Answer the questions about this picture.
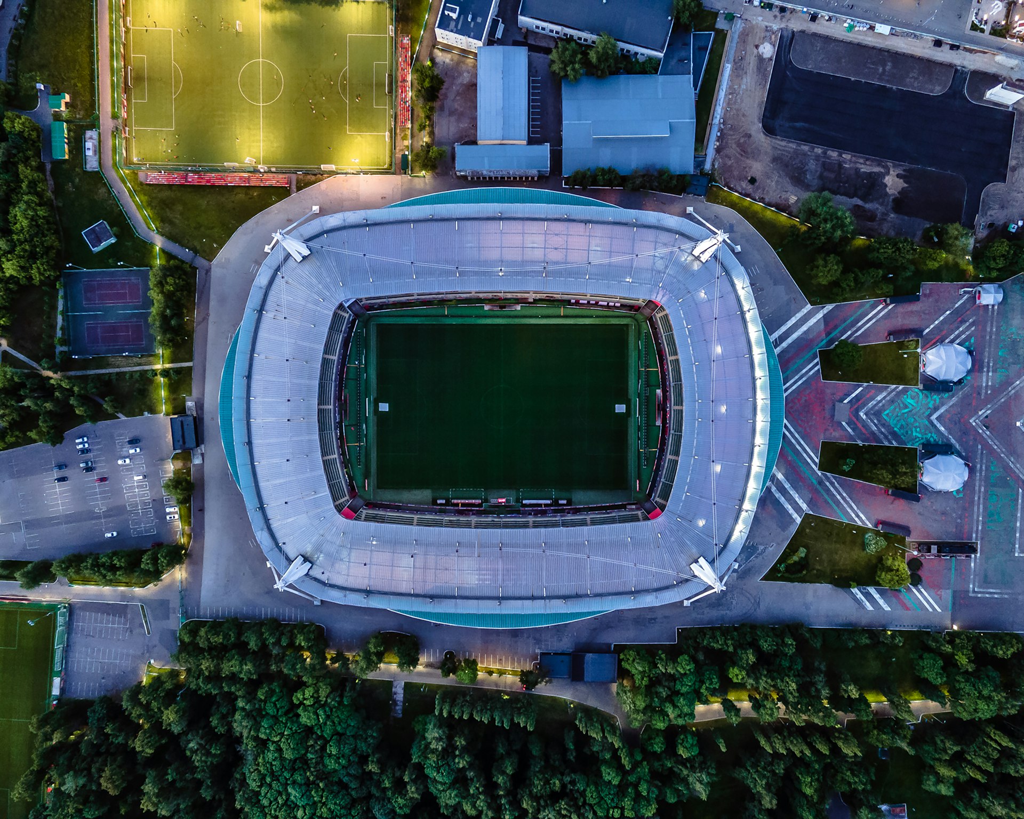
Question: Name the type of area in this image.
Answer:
sports ground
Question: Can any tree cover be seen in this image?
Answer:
Yes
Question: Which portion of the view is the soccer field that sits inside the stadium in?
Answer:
center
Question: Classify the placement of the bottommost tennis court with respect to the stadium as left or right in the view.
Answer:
to its left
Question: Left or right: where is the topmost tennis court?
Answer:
left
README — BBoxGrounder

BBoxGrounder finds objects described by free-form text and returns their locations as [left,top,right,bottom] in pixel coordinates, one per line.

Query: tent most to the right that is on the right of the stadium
[977,283,1009,304]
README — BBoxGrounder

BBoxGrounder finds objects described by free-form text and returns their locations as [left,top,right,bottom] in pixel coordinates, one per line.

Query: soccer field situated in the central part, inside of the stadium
[365,315,640,505]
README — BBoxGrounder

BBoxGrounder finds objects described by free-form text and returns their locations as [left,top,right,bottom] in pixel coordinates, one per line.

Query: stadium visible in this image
[218,187,785,629]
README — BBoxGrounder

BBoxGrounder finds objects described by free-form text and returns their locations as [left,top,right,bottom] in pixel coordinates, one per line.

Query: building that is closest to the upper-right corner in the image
[985,77,1024,112]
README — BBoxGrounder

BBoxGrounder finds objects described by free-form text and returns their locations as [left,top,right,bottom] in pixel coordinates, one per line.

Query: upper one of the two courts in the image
[63,269,152,313]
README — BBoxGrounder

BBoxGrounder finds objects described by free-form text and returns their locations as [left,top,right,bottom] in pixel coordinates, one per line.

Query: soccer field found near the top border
[115,0,396,171]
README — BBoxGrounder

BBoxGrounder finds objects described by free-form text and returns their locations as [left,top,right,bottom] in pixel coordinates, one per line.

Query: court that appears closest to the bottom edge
[66,309,156,355]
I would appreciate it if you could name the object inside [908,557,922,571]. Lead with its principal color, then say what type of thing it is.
black umbrella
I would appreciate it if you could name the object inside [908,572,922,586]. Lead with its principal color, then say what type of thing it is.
black umbrella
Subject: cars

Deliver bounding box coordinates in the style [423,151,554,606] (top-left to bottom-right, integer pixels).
[76,449,89,455]
[117,458,129,464]
[95,477,106,483]
[133,474,145,480]
[75,443,88,449]
[522,685,533,691]
[104,532,116,538]
[54,477,66,482]
[81,467,94,473]
[52,465,65,470]
[166,515,177,520]
[127,439,139,445]
[165,507,176,512]
[128,448,140,454]
[79,461,91,467]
